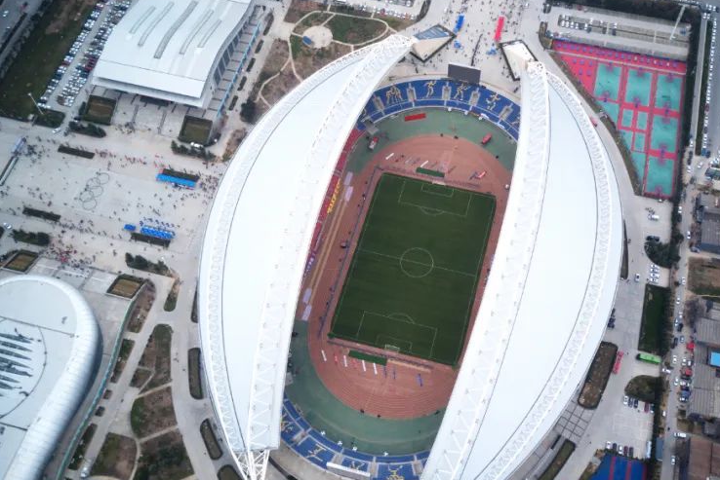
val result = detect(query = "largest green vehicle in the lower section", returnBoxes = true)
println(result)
[638,350,661,366]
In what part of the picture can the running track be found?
center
